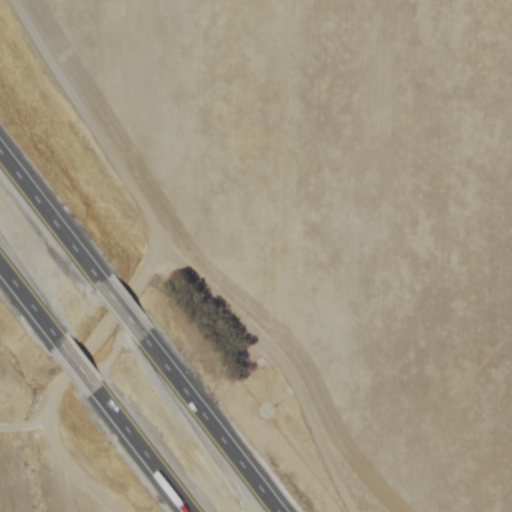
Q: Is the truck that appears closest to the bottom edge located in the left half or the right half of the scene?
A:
left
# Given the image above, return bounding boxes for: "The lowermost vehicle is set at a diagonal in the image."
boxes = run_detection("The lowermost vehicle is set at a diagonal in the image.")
[154,472,189,512]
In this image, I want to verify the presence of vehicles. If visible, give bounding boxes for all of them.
[188,403,198,414]
[154,472,189,512]
[108,401,118,412]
